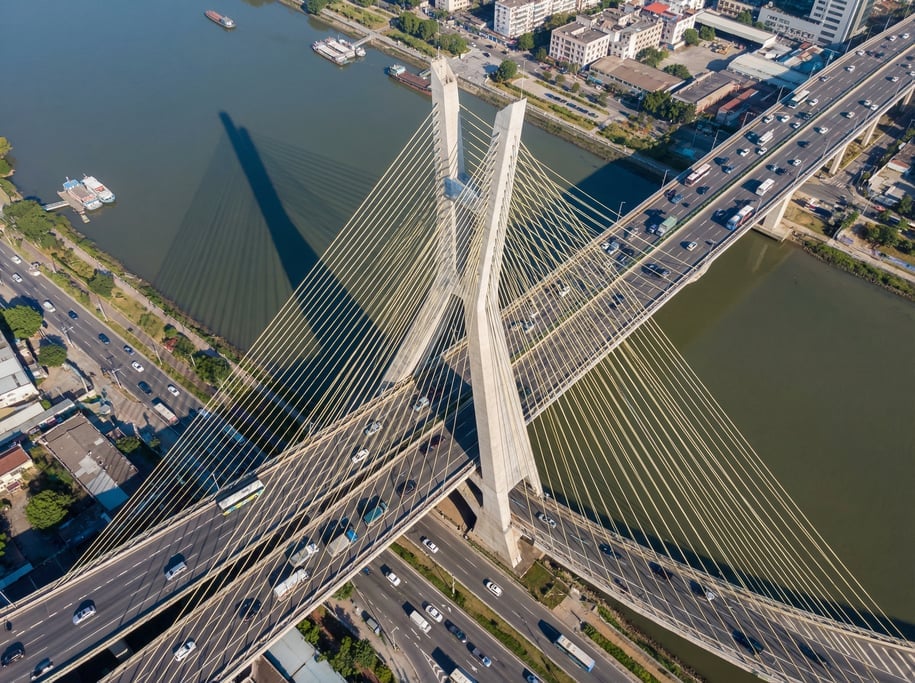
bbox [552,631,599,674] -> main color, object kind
white bus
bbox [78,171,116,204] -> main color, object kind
white ship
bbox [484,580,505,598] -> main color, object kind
white car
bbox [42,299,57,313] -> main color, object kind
white vehicle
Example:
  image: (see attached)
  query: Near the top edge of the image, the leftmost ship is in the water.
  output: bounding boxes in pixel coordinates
[205,13,238,31]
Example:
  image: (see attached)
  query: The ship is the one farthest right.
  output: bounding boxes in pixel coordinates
[386,62,434,97]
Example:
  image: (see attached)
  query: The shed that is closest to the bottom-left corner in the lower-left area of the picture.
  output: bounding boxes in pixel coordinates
[0,561,40,603]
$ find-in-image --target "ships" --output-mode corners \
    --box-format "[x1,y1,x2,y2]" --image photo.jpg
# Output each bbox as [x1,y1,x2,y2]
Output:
[56,173,103,212]
[205,13,238,31]
[78,171,116,204]
[314,45,345,68]
[386,62,434,97]
[326,38,357,58]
